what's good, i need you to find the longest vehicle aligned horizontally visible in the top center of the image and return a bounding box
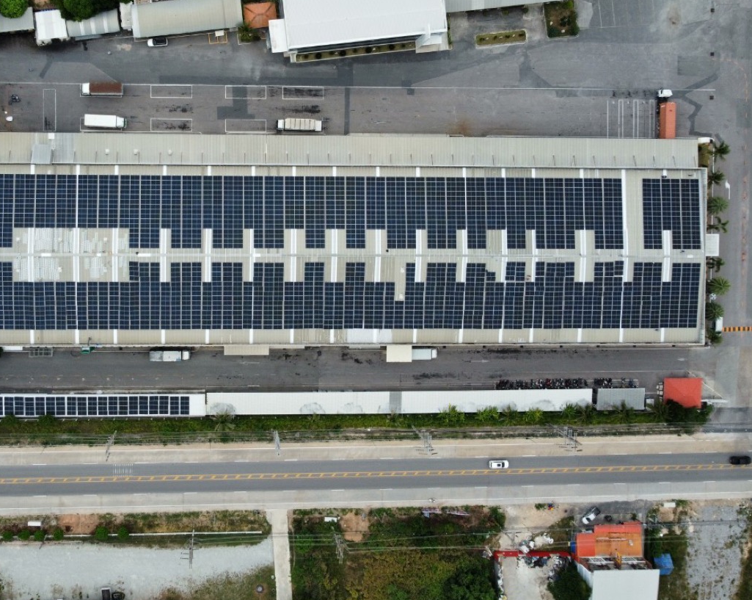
[277,119,323,131]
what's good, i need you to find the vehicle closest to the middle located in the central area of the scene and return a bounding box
[412,348,437,360]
